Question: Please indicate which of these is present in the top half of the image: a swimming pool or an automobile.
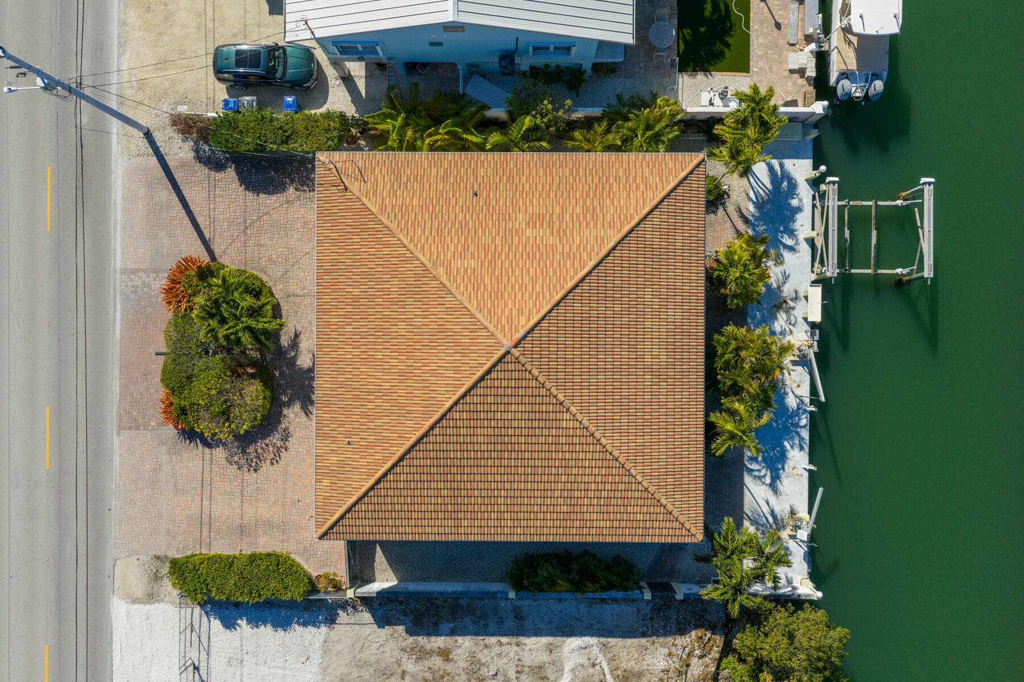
automobile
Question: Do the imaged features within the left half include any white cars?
No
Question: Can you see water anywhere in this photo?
Yes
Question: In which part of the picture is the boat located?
top right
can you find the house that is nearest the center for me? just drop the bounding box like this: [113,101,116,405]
[314,150,707,543]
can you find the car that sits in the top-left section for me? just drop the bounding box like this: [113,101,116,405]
[215,39,318,90]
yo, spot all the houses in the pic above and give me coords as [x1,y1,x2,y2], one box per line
[283,0,637,97]
[314,150,707,543]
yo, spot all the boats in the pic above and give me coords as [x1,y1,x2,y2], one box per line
[825,0,903,104]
